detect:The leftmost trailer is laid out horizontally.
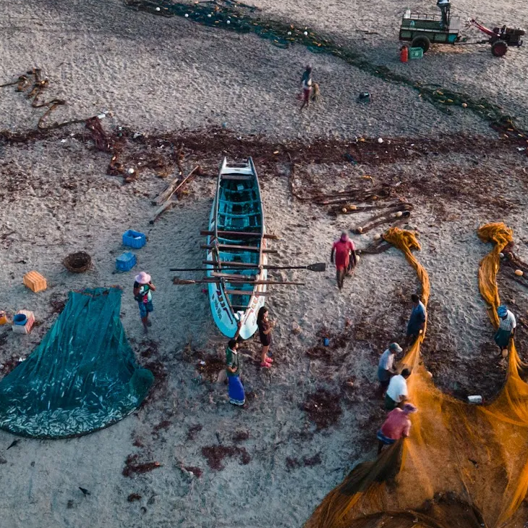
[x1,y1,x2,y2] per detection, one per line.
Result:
[399,12,491,54]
